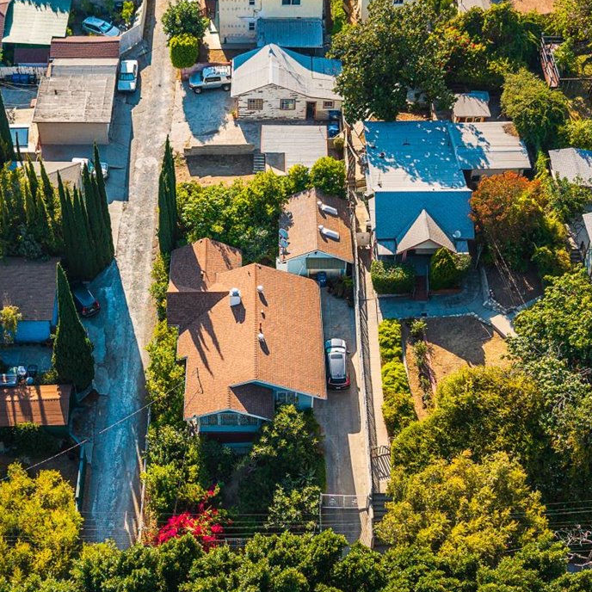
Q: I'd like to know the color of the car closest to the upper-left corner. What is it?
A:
blue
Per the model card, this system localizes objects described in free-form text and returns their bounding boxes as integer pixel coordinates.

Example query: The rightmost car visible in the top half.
[191,68,232,92]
